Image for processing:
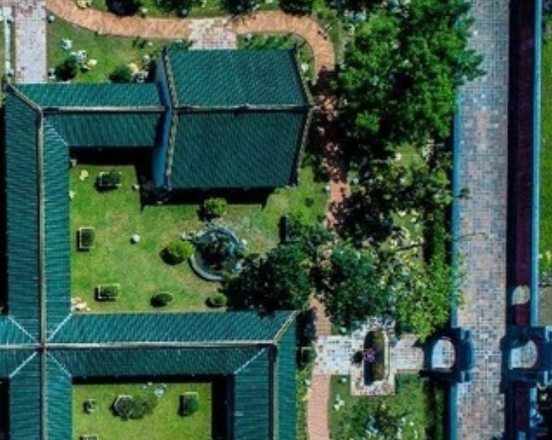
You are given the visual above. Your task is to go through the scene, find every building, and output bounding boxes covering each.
[152,36,314,194]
